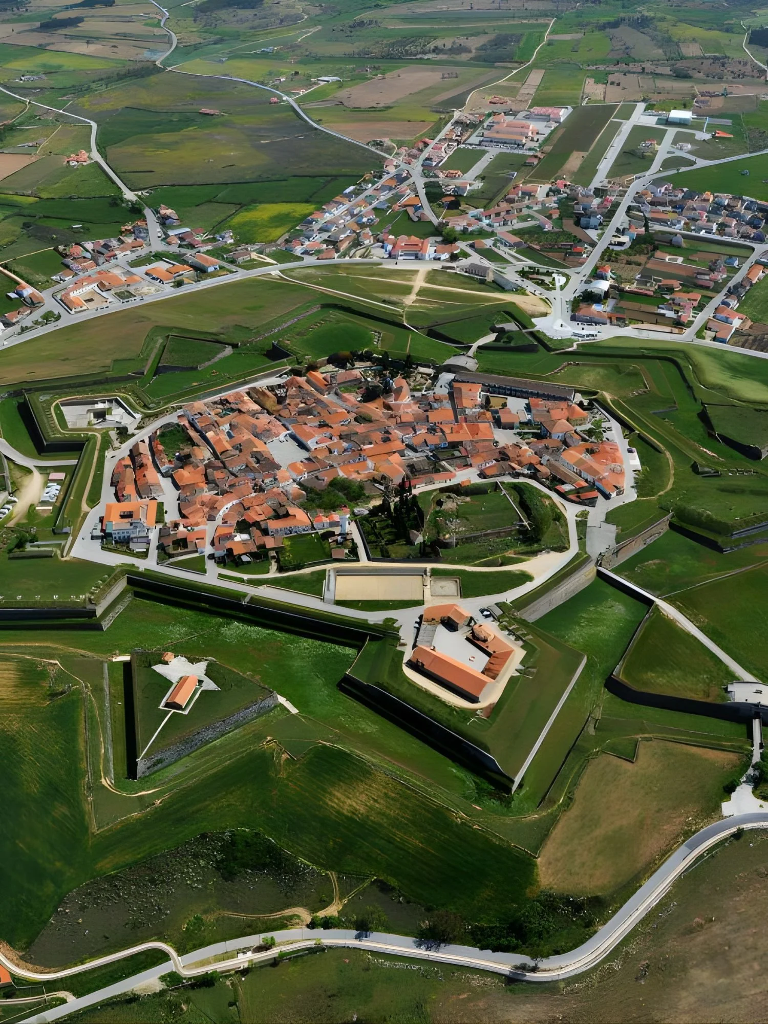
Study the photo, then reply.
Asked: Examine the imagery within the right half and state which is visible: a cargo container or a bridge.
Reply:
bridge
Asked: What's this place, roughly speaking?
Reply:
residential area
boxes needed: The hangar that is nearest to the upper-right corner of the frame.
[667,108,691,125]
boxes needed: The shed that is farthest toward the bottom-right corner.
[415,623,437,649]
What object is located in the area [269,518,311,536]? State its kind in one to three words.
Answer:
house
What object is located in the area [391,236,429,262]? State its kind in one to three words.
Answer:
building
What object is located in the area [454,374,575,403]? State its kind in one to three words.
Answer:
shed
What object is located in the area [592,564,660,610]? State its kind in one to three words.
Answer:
bridge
